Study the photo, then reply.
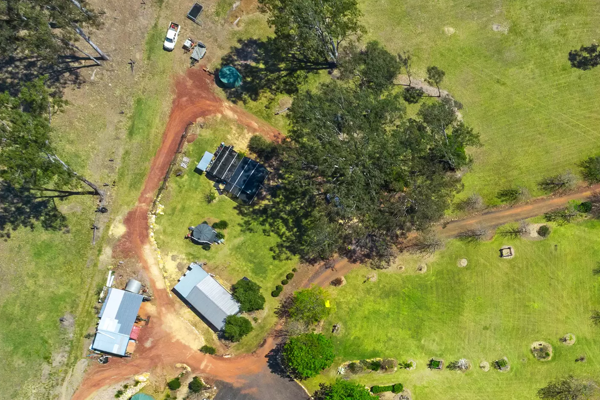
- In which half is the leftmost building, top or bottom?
bottom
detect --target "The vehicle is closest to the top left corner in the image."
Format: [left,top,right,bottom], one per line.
[160,18,179,51]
